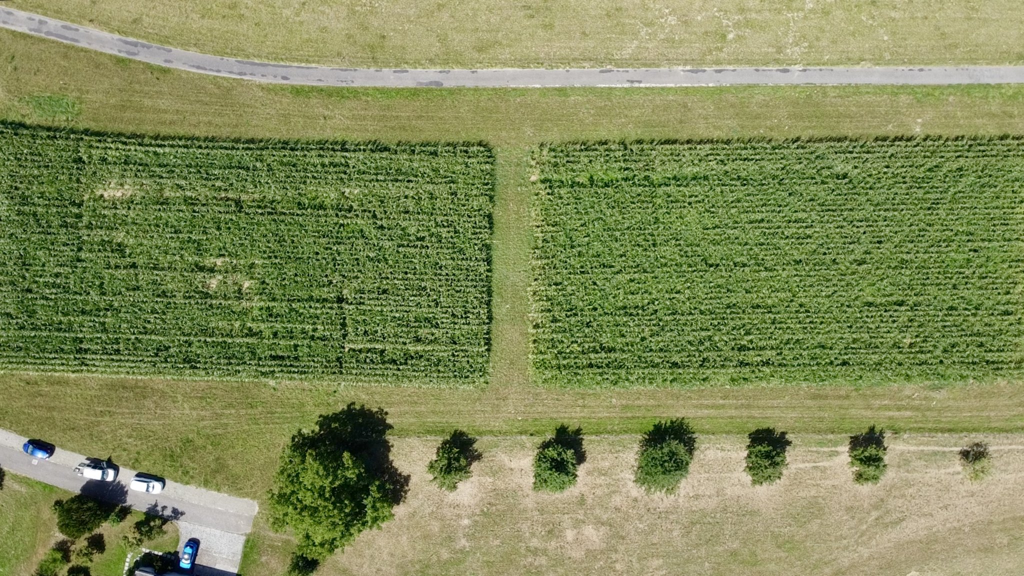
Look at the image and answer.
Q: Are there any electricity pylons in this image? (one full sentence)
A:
No, no electricity pylon can be seen from above.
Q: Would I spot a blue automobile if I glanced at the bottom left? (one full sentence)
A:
Yes, a blue automobile shows up at the bottom left.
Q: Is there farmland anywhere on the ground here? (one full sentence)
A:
Yes, farmland can be seen from above here.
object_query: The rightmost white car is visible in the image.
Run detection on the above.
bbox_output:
[129,475,164,495]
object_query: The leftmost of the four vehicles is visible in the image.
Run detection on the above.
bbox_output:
[23,439,56,460]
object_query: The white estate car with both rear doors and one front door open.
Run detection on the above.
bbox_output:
[72,459,118,483]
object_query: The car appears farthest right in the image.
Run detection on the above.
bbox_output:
[179,539,199,571]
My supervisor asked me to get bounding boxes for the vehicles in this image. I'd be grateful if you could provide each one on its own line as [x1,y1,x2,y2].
[23,439,56,460]
[179,539,199,571]
[129,475,164,495]
[72,459,118,483]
